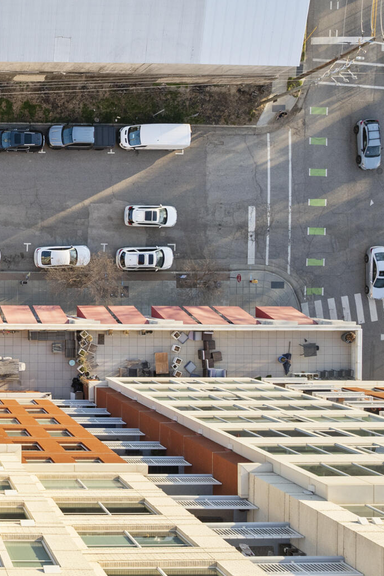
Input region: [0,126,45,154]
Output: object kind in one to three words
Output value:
car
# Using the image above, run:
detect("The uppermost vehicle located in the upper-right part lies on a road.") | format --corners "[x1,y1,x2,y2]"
[353,119,383,171]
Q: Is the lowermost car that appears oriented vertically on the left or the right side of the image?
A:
right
